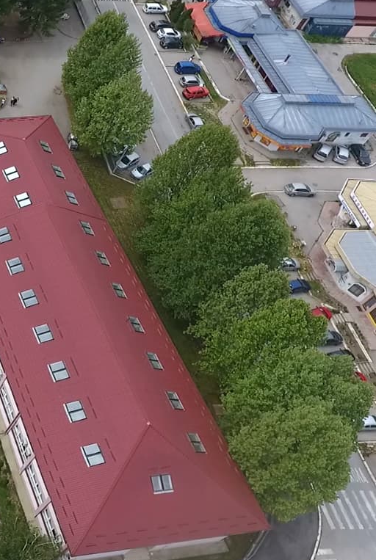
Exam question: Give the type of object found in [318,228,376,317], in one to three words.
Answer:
building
